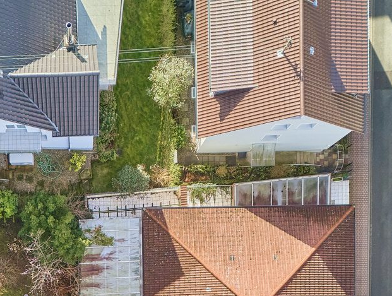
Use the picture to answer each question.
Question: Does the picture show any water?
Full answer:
No, the scene doesn't show any water.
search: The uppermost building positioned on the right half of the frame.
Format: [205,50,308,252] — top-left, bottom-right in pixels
[176,0,369,173]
